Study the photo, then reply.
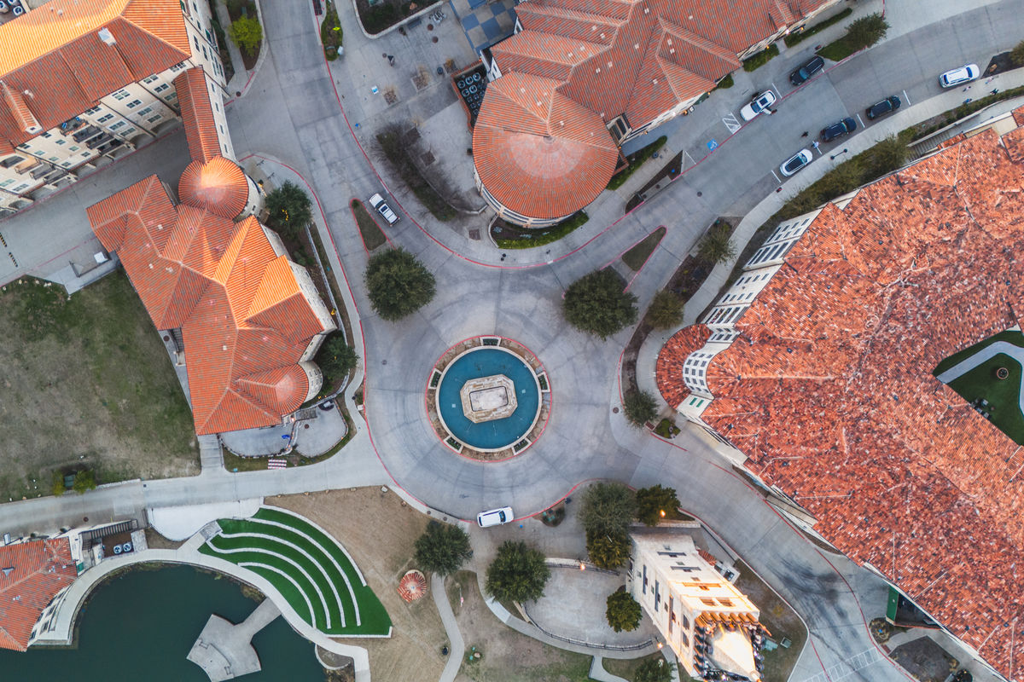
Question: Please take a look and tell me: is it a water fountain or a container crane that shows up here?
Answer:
water fountain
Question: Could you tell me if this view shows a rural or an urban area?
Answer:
urban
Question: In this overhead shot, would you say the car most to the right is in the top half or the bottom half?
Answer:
top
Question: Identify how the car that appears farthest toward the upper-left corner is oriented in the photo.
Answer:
diagonally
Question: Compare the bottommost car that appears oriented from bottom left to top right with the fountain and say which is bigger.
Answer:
the fountain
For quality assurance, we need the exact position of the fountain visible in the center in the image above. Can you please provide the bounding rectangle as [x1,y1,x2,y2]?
[424,334,552,461]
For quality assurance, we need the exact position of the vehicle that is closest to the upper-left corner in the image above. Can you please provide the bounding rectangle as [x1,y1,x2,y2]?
[367,191,399,225]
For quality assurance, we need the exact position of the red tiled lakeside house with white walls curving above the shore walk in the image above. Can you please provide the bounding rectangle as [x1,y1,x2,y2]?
[0,529,100,653]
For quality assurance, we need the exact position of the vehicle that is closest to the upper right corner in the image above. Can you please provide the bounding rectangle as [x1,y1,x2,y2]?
[941,62,982,84]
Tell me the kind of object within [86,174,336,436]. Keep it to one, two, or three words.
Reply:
house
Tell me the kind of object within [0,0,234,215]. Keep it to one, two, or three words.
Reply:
building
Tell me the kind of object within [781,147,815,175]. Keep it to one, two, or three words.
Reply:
car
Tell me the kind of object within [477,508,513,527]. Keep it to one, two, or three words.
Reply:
car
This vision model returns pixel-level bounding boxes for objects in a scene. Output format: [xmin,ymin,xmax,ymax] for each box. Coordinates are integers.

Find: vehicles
[791,52,827,82]
[821,114,859,140]
[866,92,904,117]
[941,62,982,84]
[742,87,778,117]
[367,191,399,225]
[477,508,513,527]
[781,147,815,175]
